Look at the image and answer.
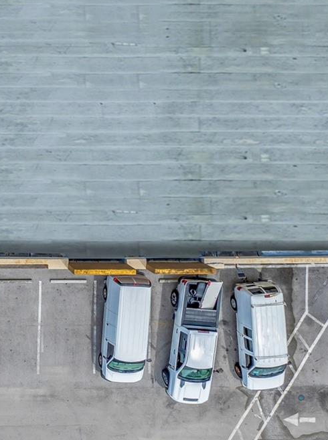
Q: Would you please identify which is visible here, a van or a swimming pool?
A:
van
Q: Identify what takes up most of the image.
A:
buildings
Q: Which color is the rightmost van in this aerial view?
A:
white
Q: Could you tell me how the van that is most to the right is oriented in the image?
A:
vertically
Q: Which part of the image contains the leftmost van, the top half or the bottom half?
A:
bottom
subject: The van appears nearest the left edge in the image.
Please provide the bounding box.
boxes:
[100,276,157,384]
